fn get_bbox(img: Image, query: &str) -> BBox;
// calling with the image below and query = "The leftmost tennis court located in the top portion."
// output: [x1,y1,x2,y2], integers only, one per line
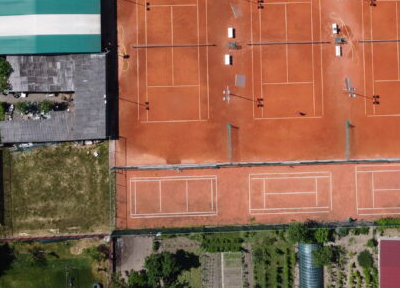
[115,0,231,167]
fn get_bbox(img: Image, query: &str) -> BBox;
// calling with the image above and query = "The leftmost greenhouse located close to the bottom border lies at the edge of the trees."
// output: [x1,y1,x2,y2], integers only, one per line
[299,244,323,288]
